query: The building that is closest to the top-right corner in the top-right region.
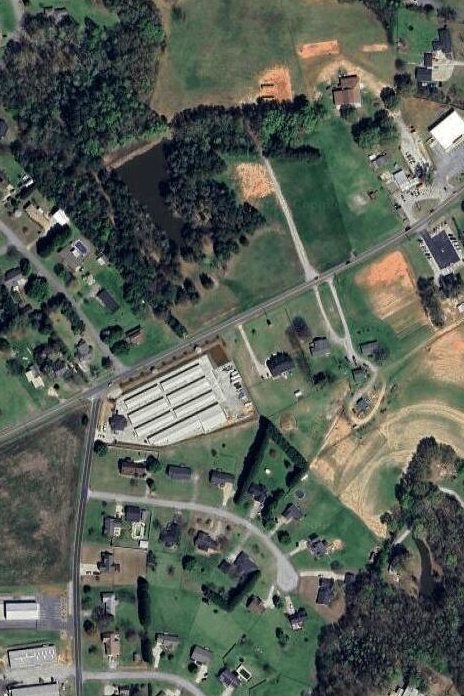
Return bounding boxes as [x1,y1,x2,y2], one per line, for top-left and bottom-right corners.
[433,27,454,53]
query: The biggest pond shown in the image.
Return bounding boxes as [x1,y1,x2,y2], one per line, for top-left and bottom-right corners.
[118,145,187,249]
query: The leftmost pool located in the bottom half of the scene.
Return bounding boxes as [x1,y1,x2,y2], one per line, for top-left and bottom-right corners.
[132,521,145,539]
